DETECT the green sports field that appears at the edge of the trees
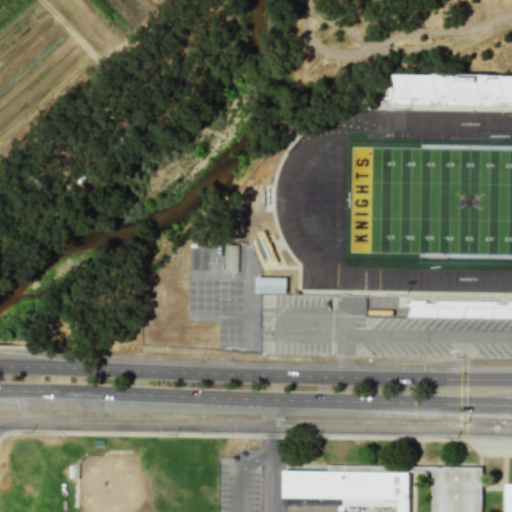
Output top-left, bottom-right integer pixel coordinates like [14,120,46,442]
[348,132,512,269]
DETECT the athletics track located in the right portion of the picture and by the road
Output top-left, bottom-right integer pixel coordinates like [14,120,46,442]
[278,111,512,290]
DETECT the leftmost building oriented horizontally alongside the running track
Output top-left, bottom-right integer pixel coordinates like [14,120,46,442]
[256,278,290,293]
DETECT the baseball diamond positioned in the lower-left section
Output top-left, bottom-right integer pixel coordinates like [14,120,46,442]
[74,450,152,512]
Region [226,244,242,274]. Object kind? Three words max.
building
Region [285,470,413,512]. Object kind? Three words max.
building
